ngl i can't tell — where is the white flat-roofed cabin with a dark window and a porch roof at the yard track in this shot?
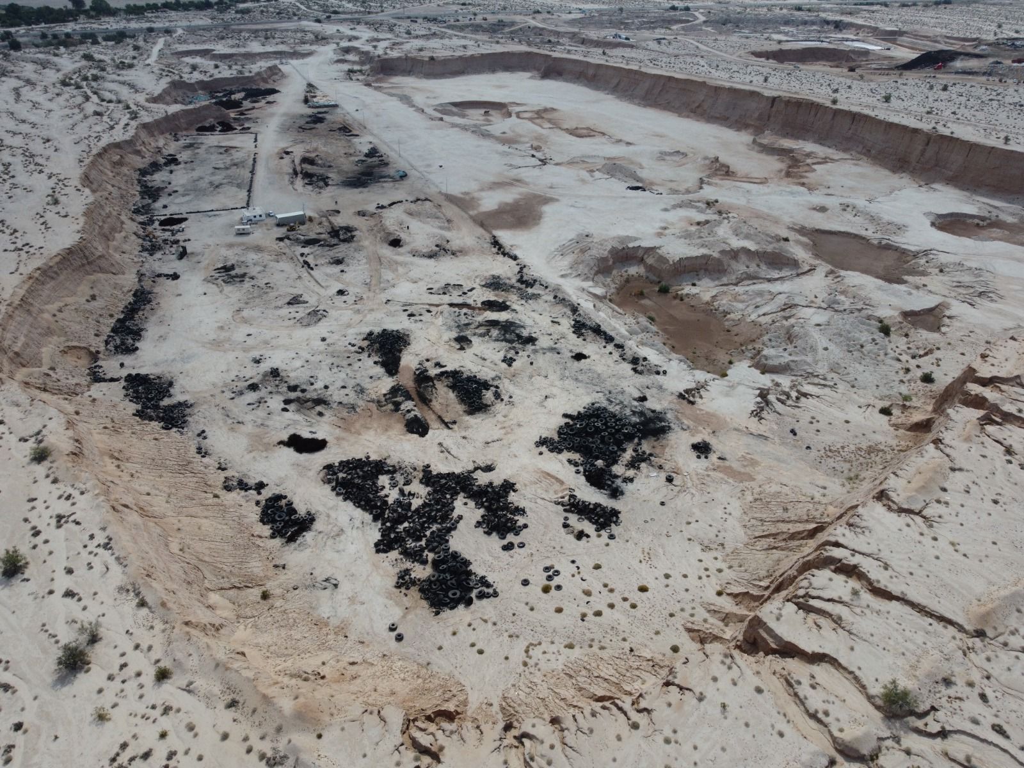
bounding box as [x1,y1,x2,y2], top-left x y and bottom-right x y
[239,208,265,224]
